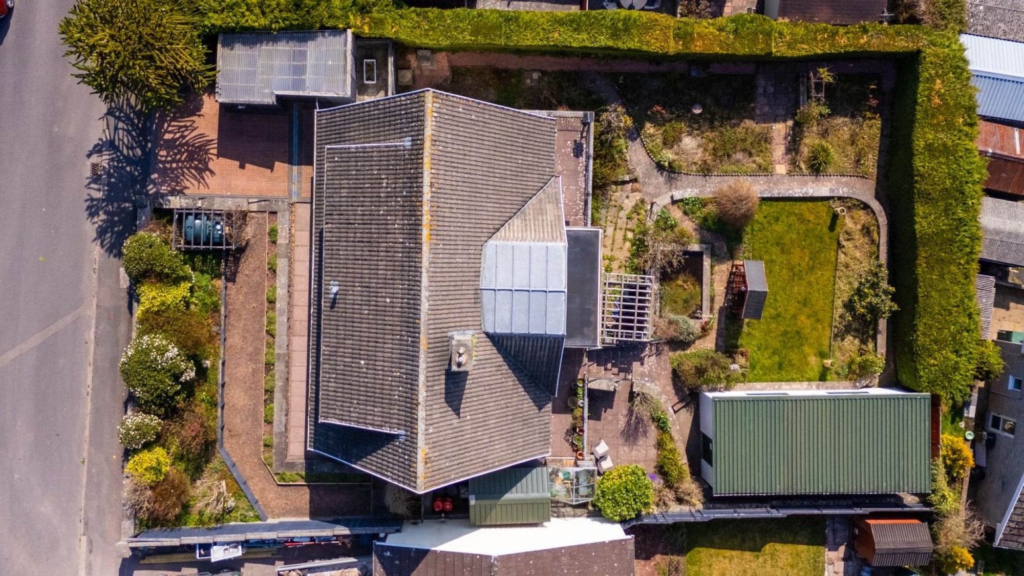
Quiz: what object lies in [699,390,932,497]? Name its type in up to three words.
building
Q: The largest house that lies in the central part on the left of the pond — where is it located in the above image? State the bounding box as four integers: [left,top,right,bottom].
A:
[306,87,604,495]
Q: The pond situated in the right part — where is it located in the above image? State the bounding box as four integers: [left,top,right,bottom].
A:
[653,244,711,350]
